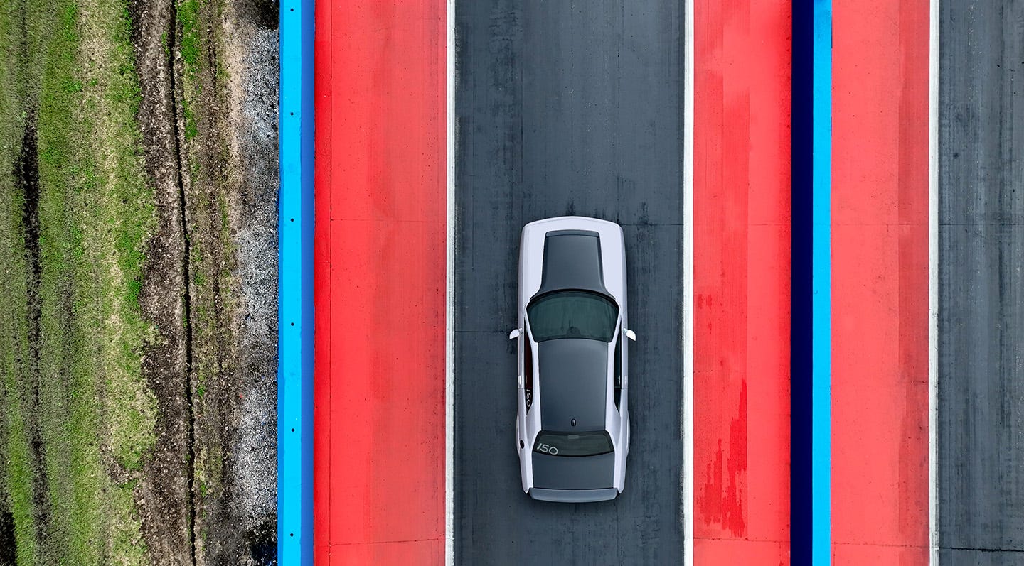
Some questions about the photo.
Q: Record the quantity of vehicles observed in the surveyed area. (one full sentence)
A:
In total, 1 vehicle can be seen.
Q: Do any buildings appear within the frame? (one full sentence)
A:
No, the picture doesn't show any building.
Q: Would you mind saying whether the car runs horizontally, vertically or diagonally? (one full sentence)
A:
The car is oriented vertically.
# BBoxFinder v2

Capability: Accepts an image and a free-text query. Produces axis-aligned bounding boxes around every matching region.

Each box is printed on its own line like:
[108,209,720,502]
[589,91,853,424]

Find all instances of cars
[509,216,638,503]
